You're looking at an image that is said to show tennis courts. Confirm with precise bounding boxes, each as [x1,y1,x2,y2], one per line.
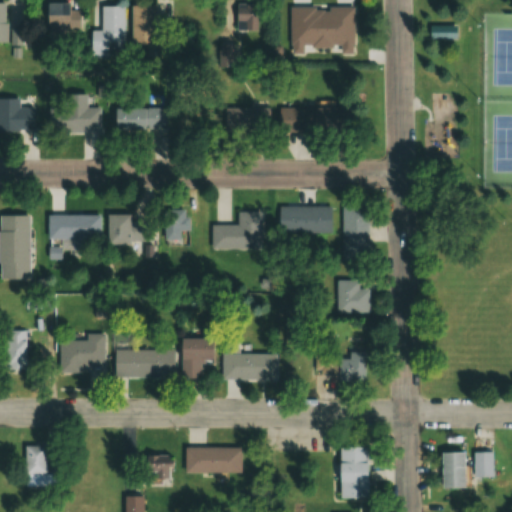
[486,13,512,100]
[486,100,512,187]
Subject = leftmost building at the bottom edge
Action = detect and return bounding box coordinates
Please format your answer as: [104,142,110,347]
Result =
[27,446,50,486]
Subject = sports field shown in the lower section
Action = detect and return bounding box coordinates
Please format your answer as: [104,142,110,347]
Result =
[440,260,512,389]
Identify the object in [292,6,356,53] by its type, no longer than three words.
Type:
house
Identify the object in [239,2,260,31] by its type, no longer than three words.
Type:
house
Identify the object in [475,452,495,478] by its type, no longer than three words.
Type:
building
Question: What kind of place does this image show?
residential area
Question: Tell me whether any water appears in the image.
No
